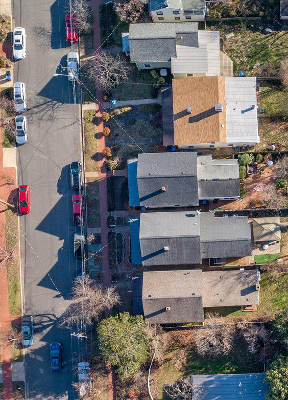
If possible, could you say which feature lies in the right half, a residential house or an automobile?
residential house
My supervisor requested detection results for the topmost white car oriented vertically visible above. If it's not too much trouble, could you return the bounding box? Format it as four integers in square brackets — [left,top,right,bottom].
[11,27,28,60]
